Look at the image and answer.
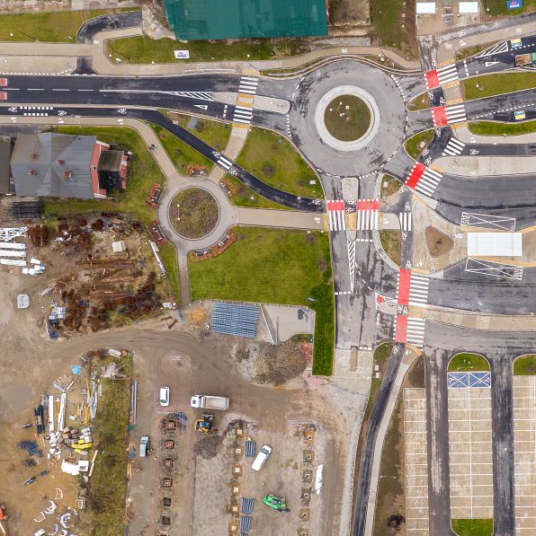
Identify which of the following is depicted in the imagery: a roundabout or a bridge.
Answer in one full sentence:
The one in the frame is a roundabout.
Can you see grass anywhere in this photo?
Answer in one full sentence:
Yes, there is grass in the image.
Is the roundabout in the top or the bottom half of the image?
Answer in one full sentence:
It is in the top half that the roundabout appears.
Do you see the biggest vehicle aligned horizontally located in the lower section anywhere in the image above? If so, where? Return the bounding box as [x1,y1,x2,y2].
[188,395,230,410]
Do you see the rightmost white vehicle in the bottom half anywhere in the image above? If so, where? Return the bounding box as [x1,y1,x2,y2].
[252,446,271,471]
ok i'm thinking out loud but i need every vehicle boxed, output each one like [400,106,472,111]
[262,496,292,514]
[513,51,536,66]
[188,395,230,410]
[159,386,171,405]
[138,435,151,458]
[252,446,271,471]
[194,410,212,441]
